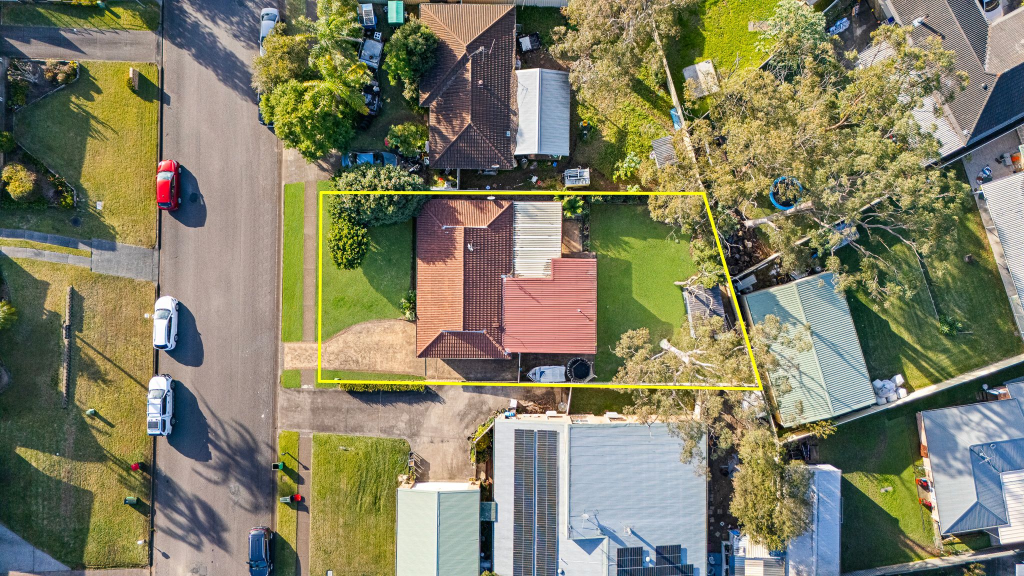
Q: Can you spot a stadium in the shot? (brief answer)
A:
No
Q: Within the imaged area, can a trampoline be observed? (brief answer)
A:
Yes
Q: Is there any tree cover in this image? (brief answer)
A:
Yes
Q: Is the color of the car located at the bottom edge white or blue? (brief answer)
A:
blue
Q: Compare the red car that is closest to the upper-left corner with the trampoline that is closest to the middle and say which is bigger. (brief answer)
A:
the car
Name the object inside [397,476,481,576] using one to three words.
building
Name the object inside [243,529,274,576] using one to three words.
car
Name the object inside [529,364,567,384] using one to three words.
boat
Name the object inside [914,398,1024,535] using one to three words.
house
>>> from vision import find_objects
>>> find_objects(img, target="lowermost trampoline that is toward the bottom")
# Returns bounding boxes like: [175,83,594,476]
[565,355,596,383]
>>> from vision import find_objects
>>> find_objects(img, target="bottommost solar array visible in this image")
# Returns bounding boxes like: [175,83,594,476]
[618,546,694,576]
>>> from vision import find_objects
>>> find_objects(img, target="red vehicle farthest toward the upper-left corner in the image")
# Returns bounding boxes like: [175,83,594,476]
[153,159,182,209]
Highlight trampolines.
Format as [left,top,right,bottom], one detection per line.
[770,178,801,208]
[565,355,596,383]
